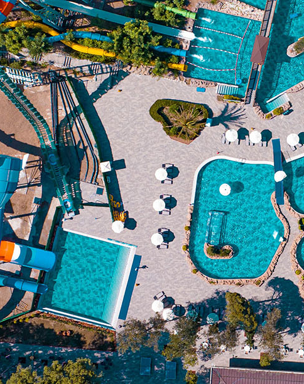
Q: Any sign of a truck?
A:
No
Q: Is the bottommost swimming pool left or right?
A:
left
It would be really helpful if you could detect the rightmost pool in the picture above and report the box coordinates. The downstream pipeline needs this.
[257,0,304,110]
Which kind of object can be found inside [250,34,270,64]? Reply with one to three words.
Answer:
gazebo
